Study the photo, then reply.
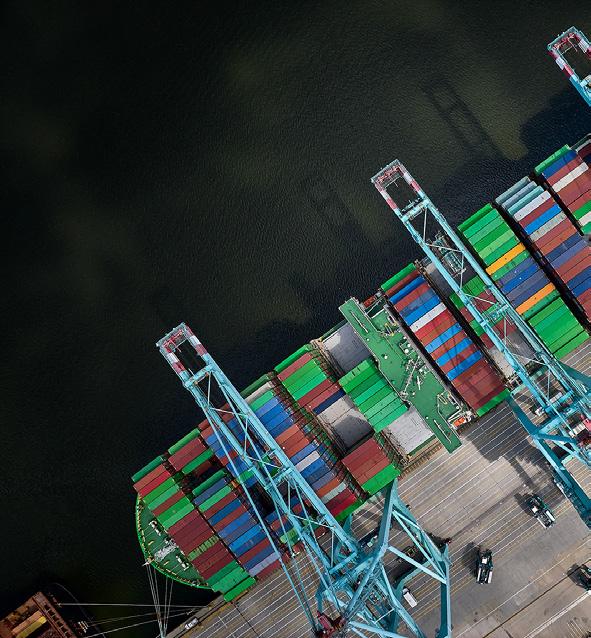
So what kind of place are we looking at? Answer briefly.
port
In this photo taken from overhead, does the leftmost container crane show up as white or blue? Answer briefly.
blue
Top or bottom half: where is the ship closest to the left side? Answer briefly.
bottom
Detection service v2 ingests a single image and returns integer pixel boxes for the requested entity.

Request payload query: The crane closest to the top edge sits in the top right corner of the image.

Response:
[547,25,591,113]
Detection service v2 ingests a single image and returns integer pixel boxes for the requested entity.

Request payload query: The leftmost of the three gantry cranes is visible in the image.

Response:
[157,319,461,638]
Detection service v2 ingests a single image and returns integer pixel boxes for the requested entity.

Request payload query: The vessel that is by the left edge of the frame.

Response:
[0,574,120,638]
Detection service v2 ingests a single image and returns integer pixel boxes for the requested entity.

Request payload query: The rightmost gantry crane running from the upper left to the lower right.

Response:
[369,159,591,518]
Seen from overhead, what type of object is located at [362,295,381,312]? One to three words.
boat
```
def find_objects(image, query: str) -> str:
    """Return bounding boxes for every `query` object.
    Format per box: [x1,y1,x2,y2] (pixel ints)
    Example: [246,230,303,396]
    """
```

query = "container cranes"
[369,159,591,518]
[547,25,591,113]
[157,319,461,638]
